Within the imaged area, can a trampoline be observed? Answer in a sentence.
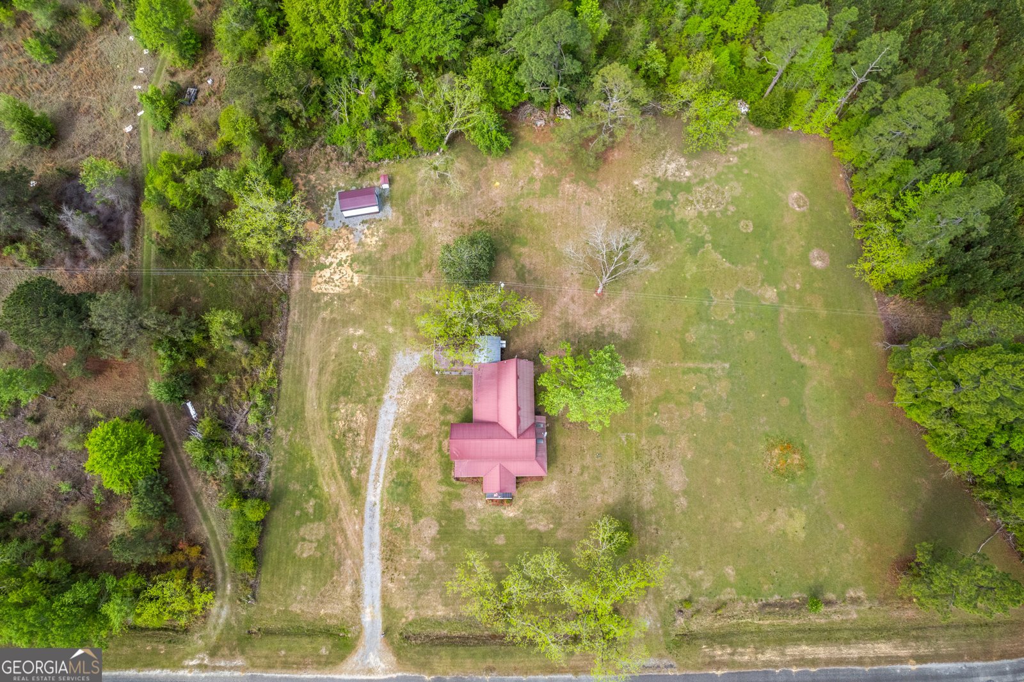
No, there's no trampoline here.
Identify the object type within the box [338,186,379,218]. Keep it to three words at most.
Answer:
shed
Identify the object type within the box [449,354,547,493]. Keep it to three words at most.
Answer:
house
